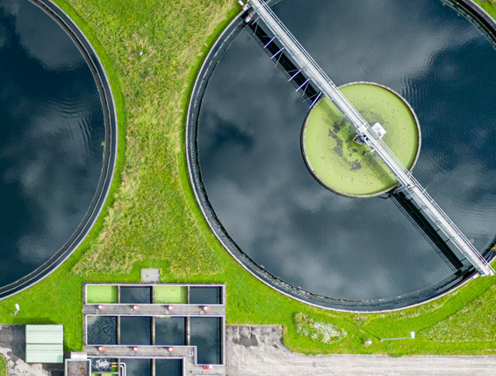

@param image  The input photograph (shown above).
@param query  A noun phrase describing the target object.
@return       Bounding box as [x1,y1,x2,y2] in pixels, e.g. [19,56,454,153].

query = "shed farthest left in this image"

[26,327,64,364]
